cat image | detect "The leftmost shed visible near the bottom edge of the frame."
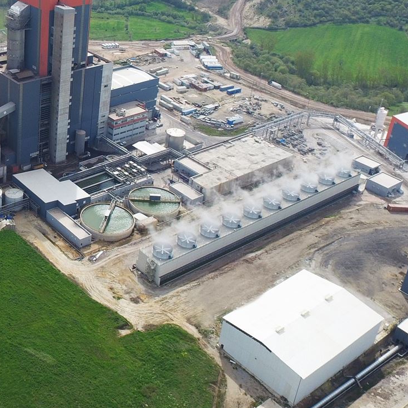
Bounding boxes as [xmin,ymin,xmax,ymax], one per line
[218,269,379,405]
